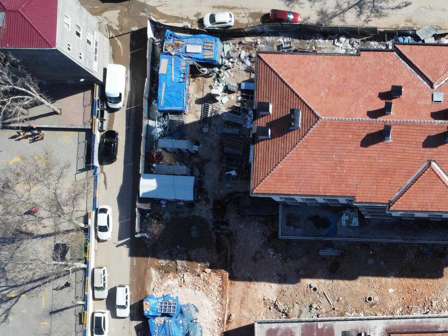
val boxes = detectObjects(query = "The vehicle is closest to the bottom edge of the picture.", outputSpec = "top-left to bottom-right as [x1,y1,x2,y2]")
[89,310,109,336]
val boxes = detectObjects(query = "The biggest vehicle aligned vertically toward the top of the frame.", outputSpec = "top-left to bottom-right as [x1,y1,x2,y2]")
[102,60,125,108]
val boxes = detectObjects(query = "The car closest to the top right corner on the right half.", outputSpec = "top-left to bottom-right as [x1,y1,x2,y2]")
[267,4,301,20]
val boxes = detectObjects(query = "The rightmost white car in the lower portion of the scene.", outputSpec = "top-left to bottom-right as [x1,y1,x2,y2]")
[112,284,130,318]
